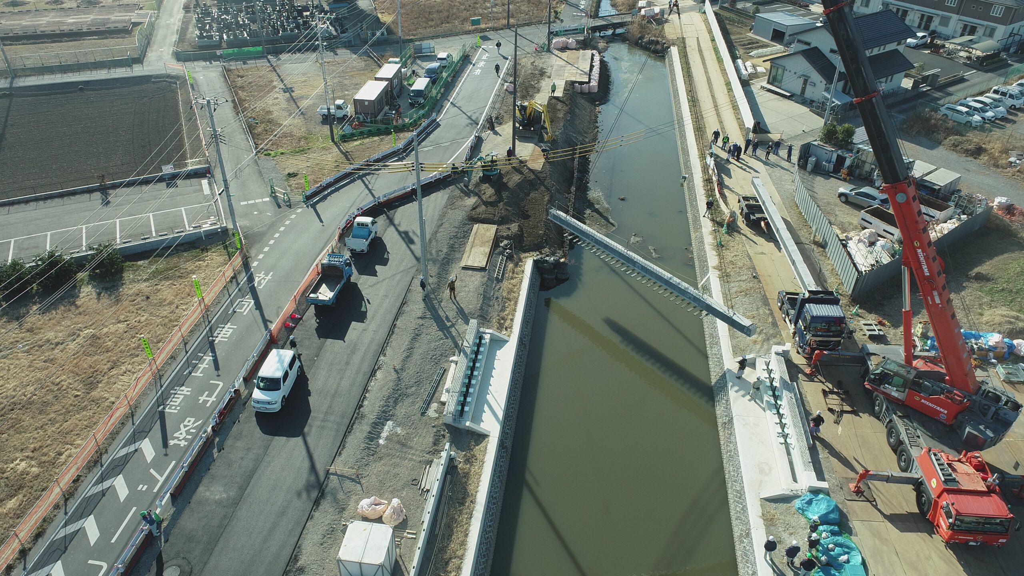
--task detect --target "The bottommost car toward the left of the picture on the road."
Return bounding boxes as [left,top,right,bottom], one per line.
[250,348,301,409]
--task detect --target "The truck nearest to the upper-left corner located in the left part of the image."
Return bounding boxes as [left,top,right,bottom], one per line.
[319,98,354,119]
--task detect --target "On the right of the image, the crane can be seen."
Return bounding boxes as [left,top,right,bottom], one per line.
[802,0,1024,558]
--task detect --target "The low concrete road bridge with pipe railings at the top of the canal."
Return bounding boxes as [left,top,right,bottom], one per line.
[591,2,666,35]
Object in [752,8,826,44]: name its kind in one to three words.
shed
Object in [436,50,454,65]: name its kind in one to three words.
car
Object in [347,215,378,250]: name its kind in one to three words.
truck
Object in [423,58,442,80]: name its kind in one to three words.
car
